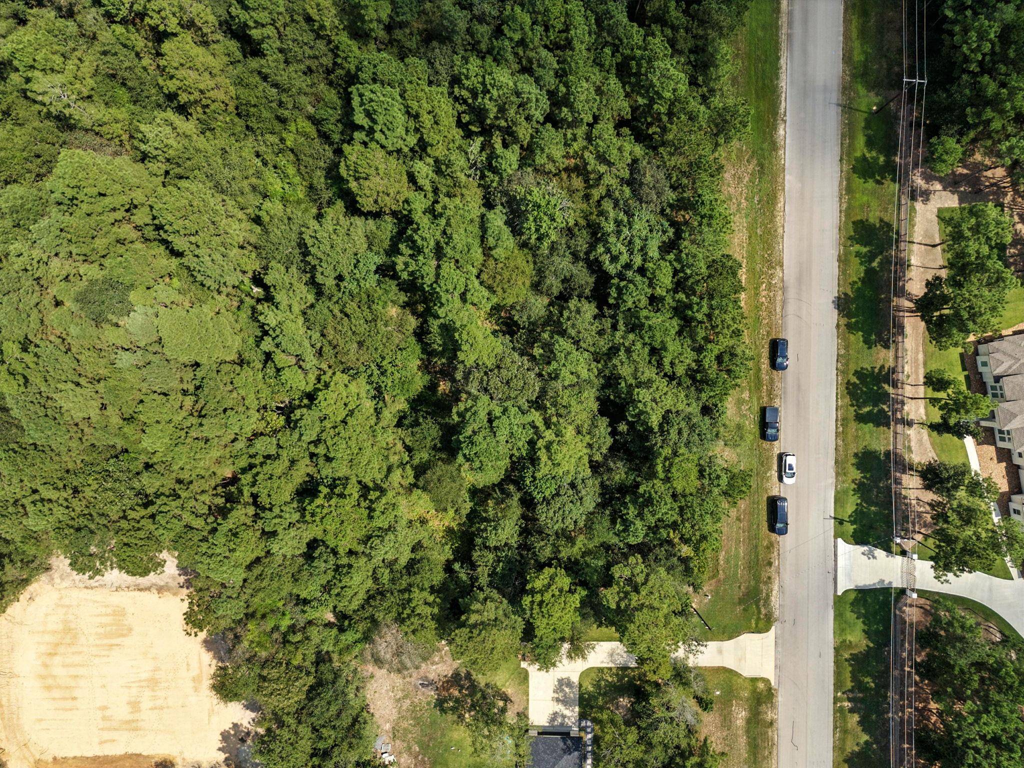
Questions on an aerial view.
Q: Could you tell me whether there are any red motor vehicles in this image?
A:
No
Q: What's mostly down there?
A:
trees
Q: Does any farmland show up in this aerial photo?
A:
No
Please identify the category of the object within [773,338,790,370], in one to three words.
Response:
car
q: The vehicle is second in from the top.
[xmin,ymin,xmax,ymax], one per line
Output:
[763,405,780,442]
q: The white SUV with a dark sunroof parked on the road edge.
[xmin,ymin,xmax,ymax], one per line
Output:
[779,452,796,483]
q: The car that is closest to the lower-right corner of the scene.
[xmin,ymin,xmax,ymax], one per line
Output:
[771,497,789,534]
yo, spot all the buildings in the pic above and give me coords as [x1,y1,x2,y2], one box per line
[526,729,585,768]
[976,332,1024,544]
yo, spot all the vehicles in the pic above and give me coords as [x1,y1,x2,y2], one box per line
[779,452,796,483]
[763,405,780,442]
[773,338,790,370]
[771,497,789,534]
